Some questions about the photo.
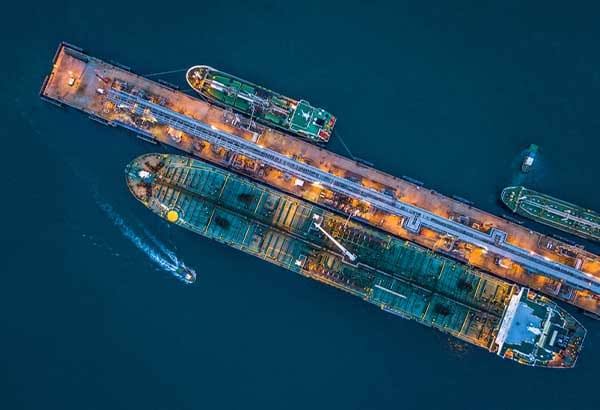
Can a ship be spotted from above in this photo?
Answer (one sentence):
Yes, the picture does show a ship.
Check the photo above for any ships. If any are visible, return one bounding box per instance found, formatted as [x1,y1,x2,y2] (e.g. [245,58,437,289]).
[122,152,587,367]
[185,64,338,143]
[499,186,600,240]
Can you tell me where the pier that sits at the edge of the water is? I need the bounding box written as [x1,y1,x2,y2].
[42,45,600,316]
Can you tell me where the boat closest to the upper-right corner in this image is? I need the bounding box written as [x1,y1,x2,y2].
[521,145,537,171]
